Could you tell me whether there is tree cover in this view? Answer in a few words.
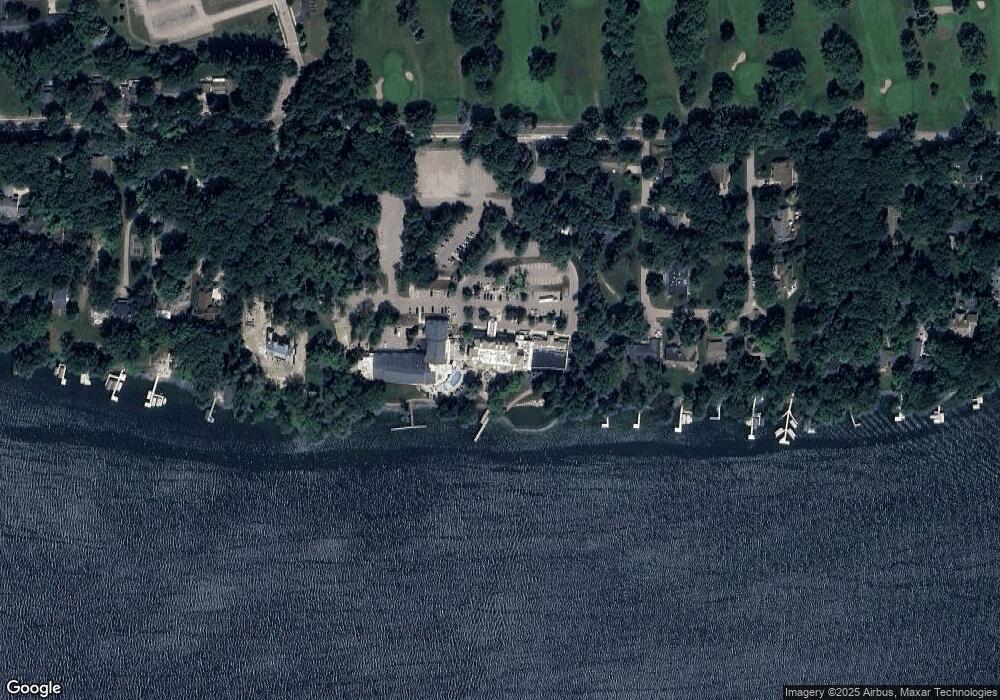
Yes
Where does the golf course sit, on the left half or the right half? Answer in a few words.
right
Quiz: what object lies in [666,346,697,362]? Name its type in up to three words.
house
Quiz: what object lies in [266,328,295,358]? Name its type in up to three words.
house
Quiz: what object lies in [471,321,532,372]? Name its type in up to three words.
building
